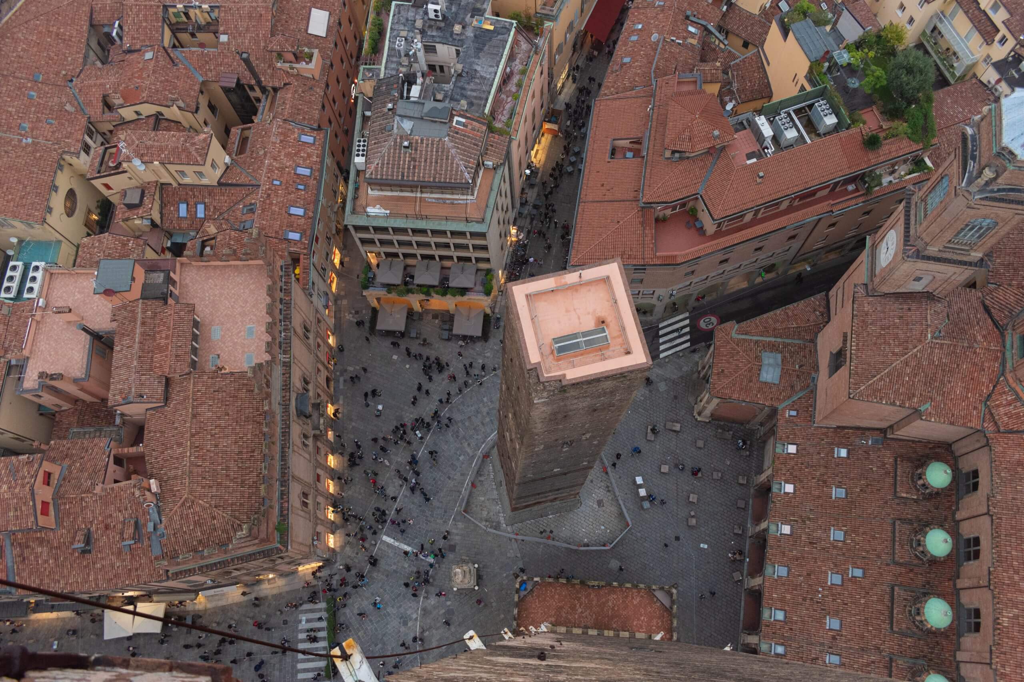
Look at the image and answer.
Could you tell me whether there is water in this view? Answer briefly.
No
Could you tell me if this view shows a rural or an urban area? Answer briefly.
urban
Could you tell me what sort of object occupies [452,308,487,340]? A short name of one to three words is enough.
umbrella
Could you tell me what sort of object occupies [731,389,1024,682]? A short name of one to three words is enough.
church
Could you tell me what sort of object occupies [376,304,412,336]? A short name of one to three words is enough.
umbrella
